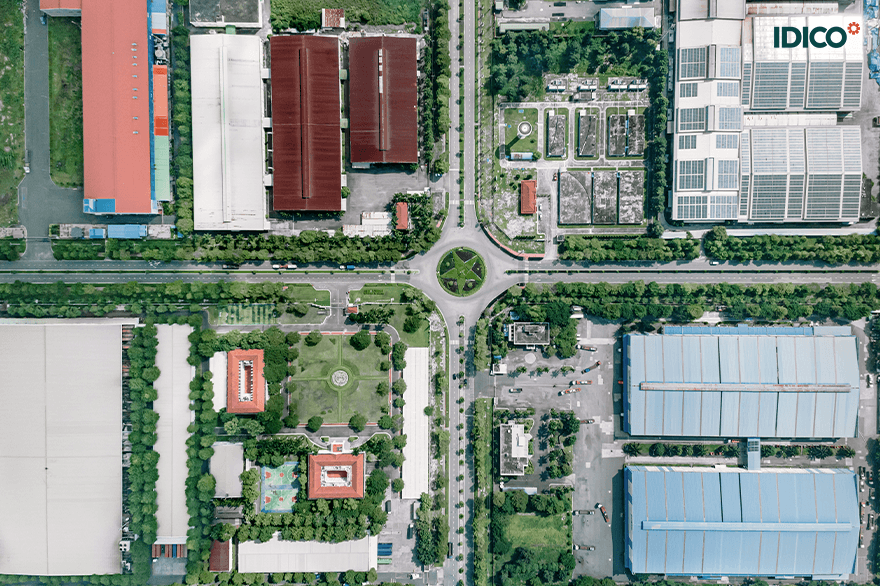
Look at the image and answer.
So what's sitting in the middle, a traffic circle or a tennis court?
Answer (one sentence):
The feature located in the middle is a traffic circle.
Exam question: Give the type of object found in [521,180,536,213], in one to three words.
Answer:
house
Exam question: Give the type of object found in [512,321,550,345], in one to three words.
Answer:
building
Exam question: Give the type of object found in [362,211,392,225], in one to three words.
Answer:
shed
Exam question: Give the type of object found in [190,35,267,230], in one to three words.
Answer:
building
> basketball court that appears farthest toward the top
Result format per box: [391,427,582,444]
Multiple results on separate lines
[263,465,298,485]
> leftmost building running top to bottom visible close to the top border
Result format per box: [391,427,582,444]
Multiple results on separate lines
[81,0,156,214]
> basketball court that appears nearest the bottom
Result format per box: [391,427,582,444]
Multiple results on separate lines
[263,490,299,510]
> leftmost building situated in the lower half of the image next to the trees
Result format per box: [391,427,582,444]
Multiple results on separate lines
[0,325,125,575]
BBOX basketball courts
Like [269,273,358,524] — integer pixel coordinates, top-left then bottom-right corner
[263,465,298,485]
[263,490,299,510]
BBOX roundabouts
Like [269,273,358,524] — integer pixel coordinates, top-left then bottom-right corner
[437,247,487,297]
